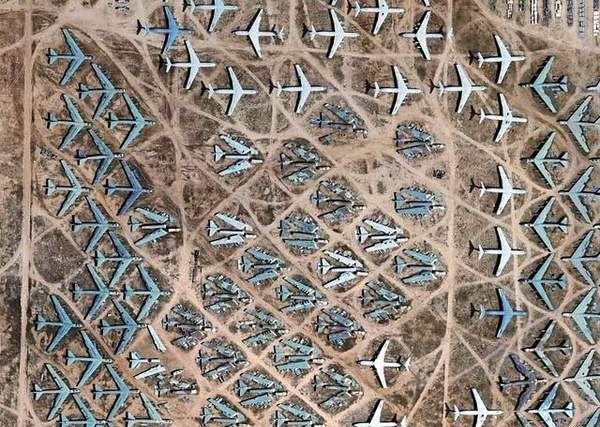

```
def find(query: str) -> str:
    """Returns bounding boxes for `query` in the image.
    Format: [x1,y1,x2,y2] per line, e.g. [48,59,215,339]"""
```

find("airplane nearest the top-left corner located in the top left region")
[47,29,94,85]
